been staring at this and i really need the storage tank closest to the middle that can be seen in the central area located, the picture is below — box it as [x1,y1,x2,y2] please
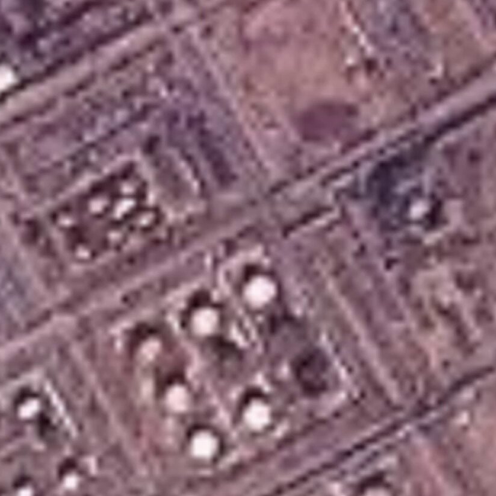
[237,269,281,312]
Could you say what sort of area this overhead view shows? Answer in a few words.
industrial area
